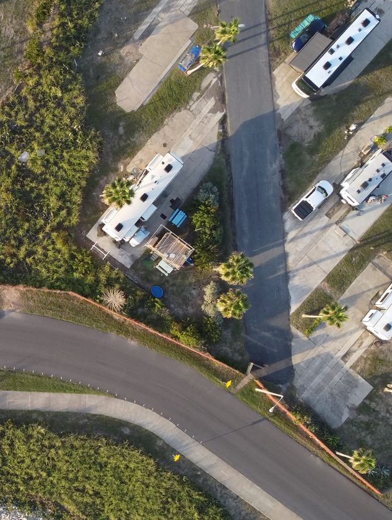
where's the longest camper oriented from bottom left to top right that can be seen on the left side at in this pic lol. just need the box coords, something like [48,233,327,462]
[99,152,183,242]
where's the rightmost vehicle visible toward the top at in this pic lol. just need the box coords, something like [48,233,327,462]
[333,151,392,208]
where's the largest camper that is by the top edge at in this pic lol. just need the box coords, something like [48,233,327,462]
[281,6,380,107]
